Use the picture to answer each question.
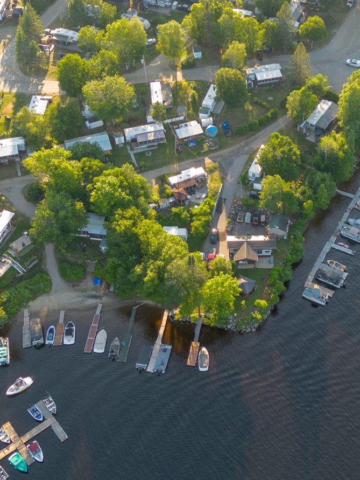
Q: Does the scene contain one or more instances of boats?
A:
Yes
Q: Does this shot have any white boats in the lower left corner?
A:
Yes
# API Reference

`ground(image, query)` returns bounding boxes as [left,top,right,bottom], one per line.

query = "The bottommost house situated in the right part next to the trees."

[228,235,276,271]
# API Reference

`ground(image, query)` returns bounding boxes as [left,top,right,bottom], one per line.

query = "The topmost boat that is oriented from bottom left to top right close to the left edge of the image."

[7,374,37,395]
